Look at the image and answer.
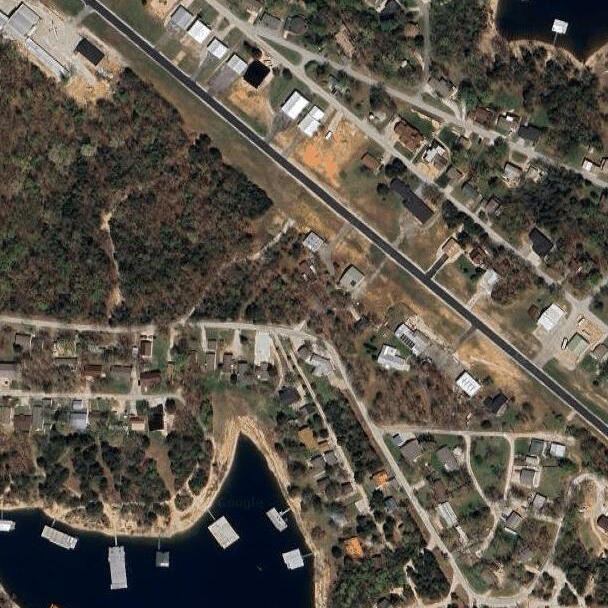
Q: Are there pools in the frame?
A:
No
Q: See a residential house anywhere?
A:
Yes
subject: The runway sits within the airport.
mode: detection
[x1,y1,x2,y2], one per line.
[83,0,608,436]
